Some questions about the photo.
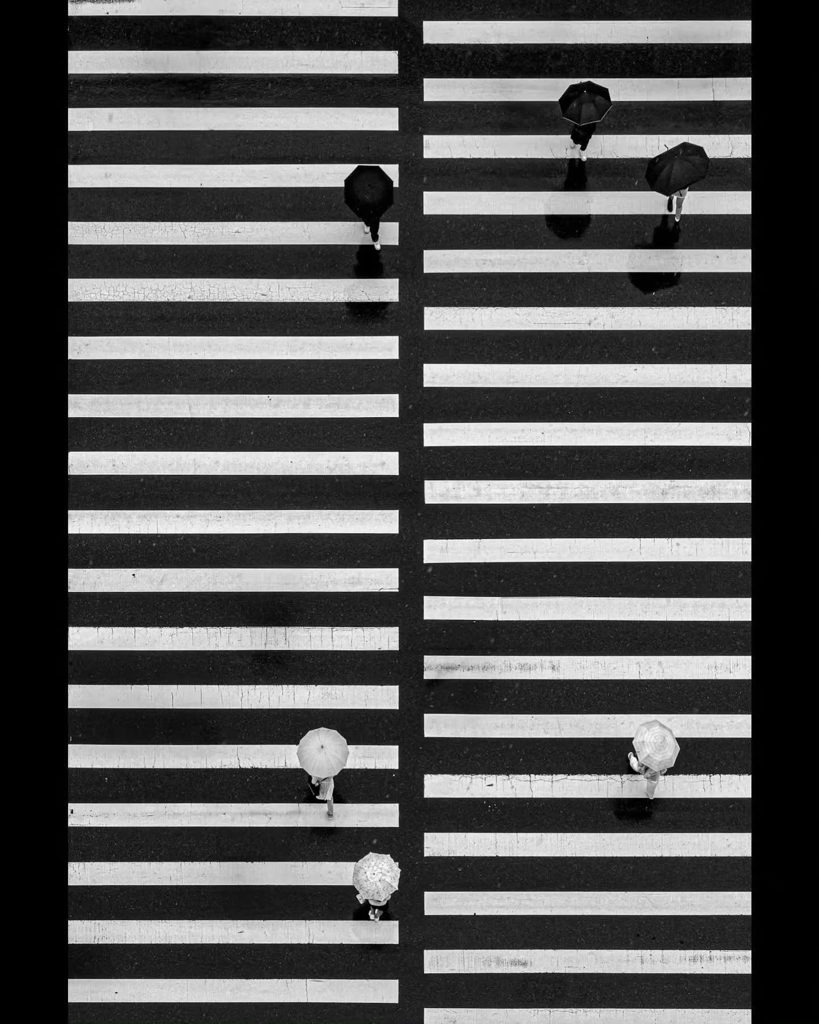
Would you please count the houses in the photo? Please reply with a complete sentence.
There are no houses in this view.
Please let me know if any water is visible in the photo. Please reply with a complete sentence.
No, no water is visible.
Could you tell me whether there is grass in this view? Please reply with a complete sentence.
No, the picture contains no grass.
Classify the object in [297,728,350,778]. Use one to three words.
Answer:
umbrella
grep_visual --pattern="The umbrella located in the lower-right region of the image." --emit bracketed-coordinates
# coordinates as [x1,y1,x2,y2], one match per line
[632,719,680,771]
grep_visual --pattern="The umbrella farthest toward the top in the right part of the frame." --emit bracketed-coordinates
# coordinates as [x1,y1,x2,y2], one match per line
[559,81,613,128]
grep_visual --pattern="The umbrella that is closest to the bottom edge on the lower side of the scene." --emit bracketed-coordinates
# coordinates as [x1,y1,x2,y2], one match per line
[353,852,401,901]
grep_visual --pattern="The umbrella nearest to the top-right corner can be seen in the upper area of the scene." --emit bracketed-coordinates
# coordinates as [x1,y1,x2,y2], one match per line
[644,141,709,197]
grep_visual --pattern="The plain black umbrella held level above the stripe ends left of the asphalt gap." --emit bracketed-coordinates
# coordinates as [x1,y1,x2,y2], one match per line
[344,166,394,218]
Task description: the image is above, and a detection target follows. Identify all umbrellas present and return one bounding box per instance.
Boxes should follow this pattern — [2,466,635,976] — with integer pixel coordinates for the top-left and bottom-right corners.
[644,141,709,197]
[344,166,394,218]
[297,728,350,778]
[353,852,401,901]
[632,719,680,771]
[559,81,613,128]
